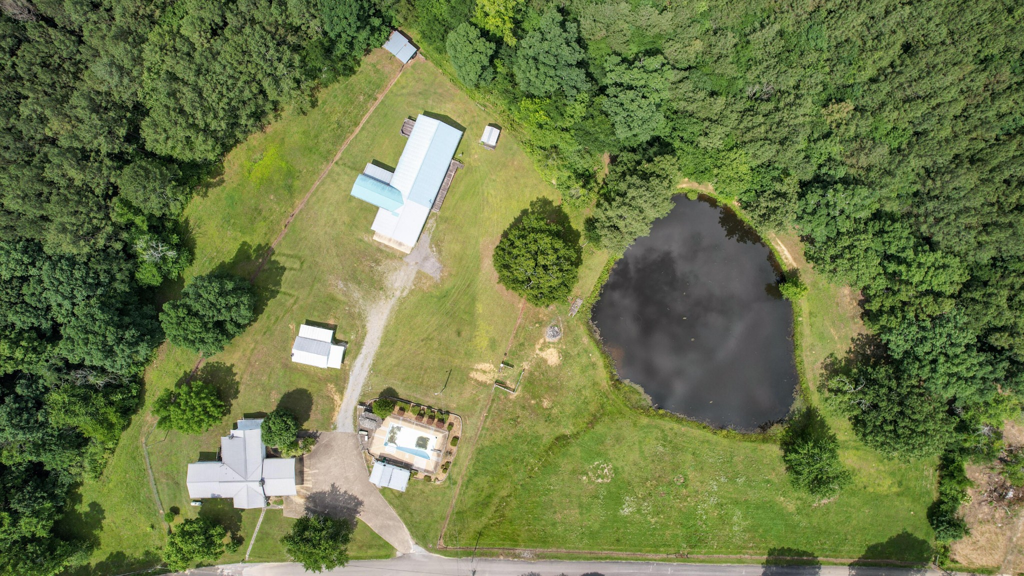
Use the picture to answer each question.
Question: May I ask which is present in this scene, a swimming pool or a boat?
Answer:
swimming pool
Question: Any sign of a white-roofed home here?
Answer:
Yes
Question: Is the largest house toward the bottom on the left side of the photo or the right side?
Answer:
left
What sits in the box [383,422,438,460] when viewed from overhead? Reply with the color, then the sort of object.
white swimming pool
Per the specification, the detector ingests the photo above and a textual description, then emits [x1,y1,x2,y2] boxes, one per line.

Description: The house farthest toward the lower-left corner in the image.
[186,417,301,509]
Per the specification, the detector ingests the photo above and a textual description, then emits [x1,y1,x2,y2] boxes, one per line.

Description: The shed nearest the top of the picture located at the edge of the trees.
[383,31,417,66]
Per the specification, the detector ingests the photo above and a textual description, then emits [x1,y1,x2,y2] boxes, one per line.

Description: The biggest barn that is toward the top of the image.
[352,114,462,246]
